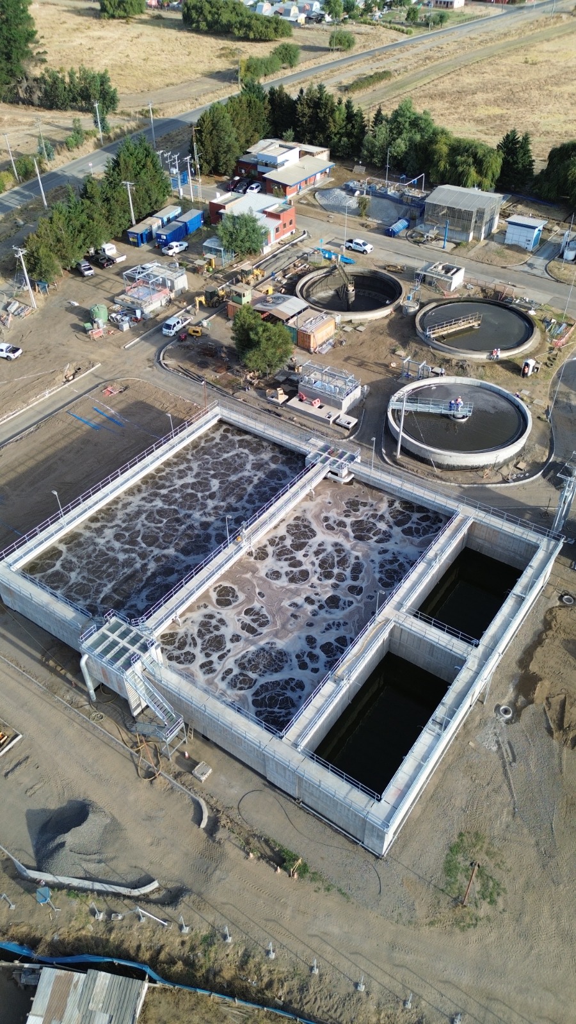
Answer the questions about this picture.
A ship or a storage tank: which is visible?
storage tank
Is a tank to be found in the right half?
Yes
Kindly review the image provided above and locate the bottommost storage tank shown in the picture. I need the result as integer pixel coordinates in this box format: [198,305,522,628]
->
[386,379,531,472]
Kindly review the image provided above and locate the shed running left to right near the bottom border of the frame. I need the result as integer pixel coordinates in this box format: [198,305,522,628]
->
[22,968,149,1024]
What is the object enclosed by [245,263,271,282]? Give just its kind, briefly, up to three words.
work vehicle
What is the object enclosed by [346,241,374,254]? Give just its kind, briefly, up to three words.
vehicle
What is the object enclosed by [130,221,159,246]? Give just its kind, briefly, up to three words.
building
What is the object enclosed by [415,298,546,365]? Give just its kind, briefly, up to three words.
storage tank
